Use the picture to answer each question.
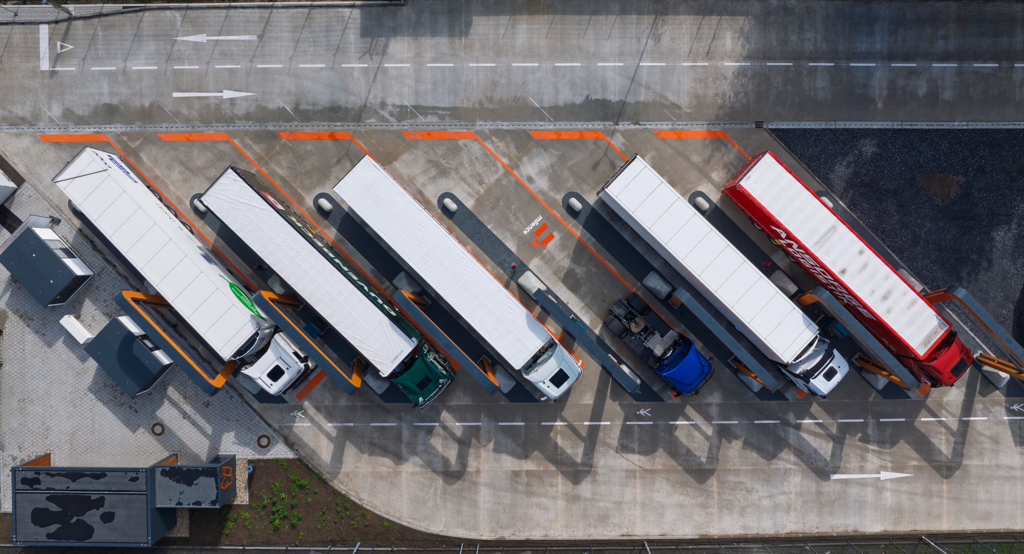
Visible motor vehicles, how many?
six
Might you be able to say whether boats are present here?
No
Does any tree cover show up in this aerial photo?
No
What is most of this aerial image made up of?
paved ground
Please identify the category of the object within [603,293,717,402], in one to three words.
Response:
truck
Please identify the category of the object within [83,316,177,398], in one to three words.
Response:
shed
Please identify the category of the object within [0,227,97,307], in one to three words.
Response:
shed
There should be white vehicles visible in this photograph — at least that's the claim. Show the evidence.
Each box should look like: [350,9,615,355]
[719,150,977,393]
[198,165,456,414]
[333,154,589,407]
[595,156,854,403]
[53,146,318,401]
